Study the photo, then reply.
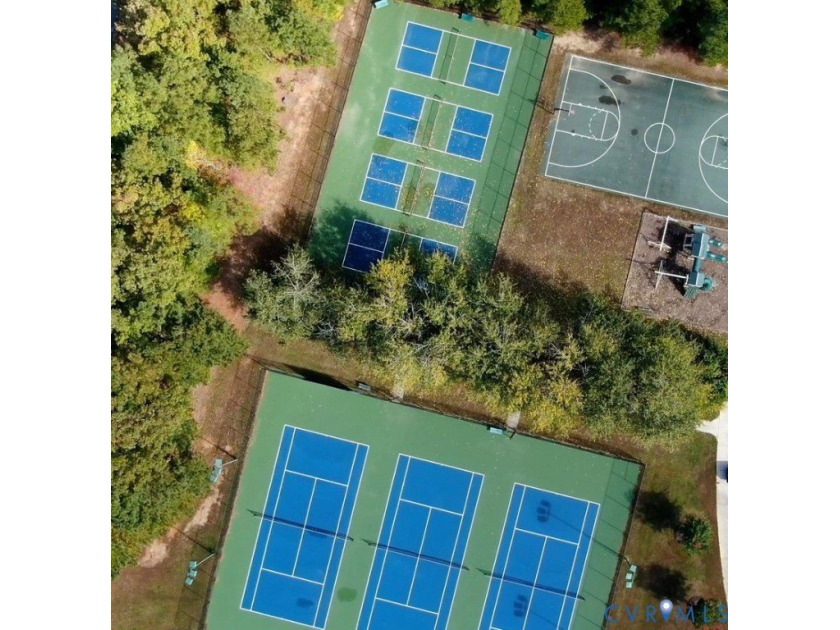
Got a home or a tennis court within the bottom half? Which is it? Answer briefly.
tennis court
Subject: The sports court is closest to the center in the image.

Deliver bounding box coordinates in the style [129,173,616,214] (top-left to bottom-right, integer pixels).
[345,221,460,291]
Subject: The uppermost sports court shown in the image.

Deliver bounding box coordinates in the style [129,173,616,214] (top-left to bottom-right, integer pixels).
[395,21,512,95]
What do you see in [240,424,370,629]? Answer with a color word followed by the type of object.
blue tennis court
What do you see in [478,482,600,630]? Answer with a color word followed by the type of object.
blue tennis court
